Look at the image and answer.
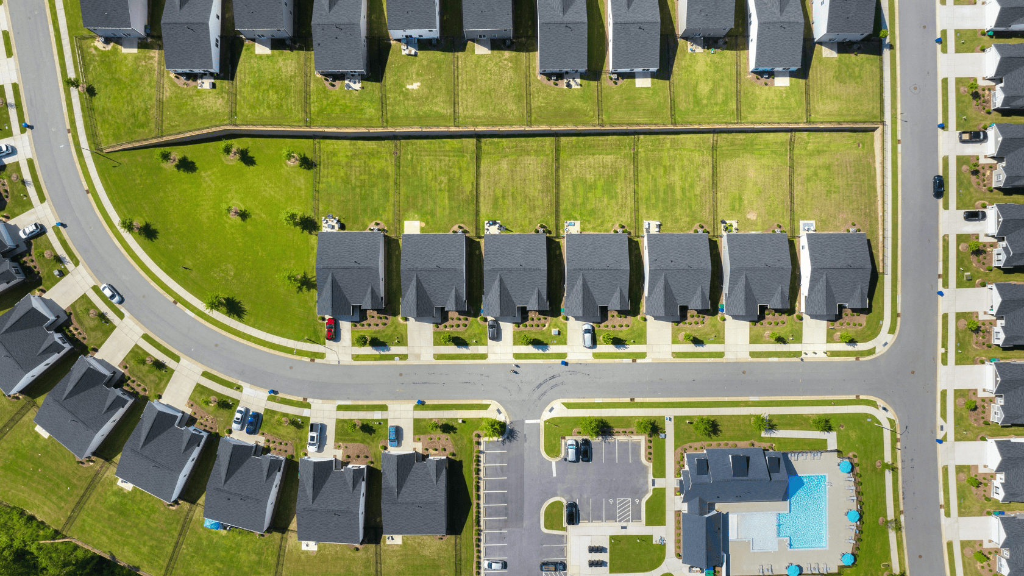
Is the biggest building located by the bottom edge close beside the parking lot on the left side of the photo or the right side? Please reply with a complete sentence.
You can find the biggest building located by the bottom edge close beside the parking lot on the right side of the picture.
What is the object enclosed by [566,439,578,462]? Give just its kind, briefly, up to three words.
vehicle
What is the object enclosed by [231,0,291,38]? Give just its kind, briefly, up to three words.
house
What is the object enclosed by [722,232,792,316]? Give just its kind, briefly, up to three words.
house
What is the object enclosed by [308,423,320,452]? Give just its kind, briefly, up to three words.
vehicle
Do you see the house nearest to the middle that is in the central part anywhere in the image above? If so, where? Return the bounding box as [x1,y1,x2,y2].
[483,233,548,317]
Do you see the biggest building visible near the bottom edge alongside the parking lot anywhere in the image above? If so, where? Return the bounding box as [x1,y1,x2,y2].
[673,445,789,571]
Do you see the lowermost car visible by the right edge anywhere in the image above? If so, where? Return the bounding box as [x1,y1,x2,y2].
[963,210,986,222]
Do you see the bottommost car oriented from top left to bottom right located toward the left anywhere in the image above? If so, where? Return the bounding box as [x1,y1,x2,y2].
[101,282,123,305]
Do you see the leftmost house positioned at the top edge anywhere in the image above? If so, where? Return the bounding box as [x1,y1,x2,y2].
[78,0,146,38]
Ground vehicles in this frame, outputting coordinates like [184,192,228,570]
[566,439,578,462]
[101,282,123,305]
[582,323,594,347]
[326,317,336,341]
[958,130,987,142]
[232,406,247,430]
[245,410,259,434]
[963,210,986,222]
[387,425,398,447]
[932,175,945,199]
[580,438,592,462]
[567,501,577,525]
[18,222,43,239]
[0,143,14,156]
[308,423,320,452]
[488,319,497,340]
[541,561,565,573]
